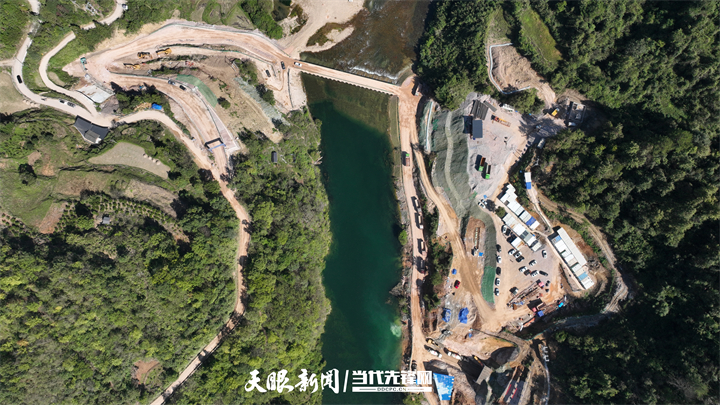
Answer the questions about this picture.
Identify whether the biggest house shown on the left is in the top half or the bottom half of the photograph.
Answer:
top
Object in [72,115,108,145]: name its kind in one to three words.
house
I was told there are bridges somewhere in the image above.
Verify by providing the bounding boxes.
[291,57,405,98]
